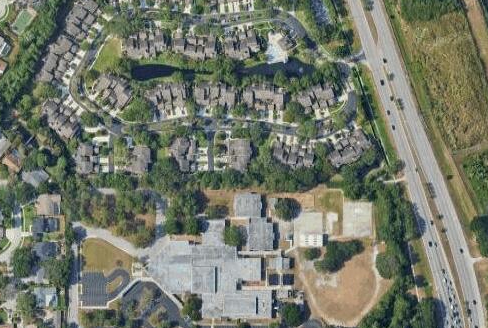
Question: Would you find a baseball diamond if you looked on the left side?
No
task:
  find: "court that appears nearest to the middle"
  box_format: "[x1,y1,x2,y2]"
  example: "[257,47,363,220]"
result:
[294,213,322,234]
